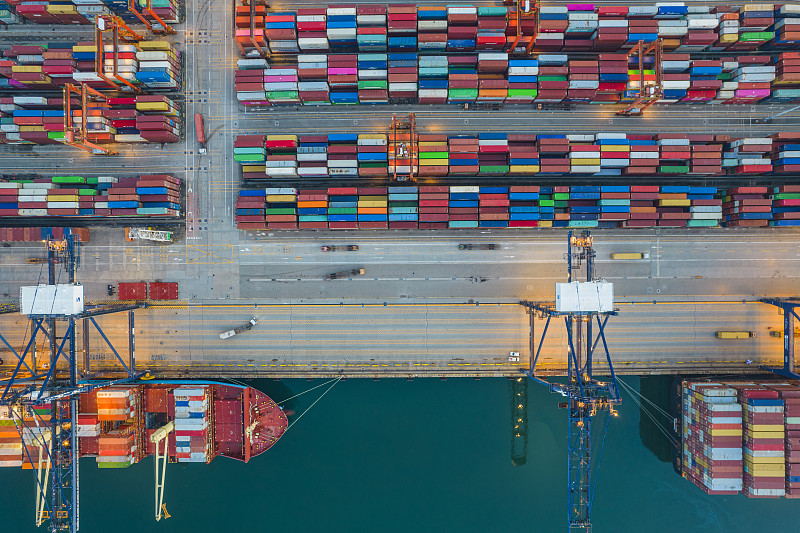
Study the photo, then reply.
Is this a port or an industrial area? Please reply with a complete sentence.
The area seen from above is a port.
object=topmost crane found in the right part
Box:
[505,0,541,56]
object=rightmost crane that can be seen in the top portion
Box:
[617,37,661,110]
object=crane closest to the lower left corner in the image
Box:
[25,421,69,527]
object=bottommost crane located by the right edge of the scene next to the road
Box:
[756,301,800,383]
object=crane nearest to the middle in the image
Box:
[388,113,418,185]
